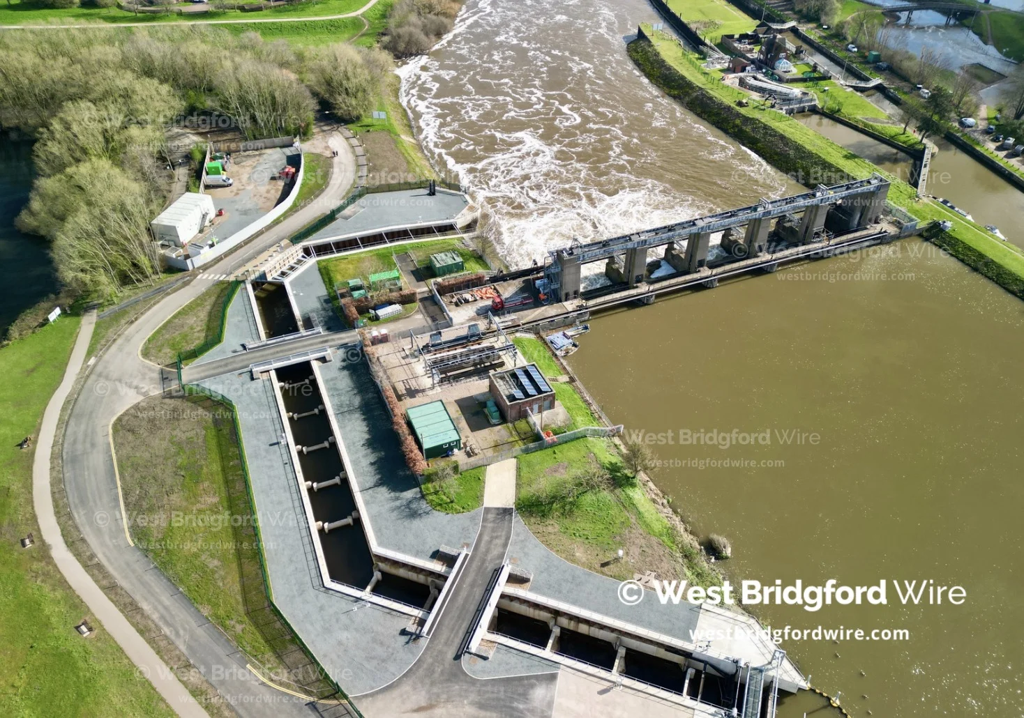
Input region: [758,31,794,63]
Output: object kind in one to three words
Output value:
house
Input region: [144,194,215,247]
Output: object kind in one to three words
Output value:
building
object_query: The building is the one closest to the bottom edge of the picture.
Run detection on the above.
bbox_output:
[400,395,461,458]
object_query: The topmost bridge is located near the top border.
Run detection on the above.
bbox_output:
[879,4,982,24]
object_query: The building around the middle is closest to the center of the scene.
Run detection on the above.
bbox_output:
[485,359,556,422]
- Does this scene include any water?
Yes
